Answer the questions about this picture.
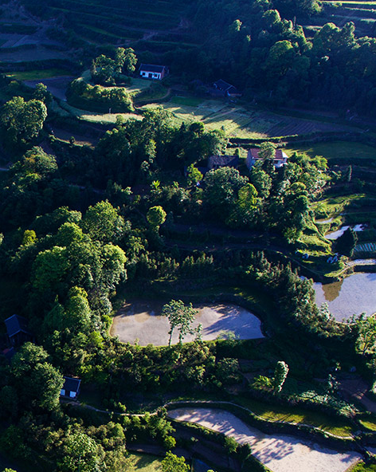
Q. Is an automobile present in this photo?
No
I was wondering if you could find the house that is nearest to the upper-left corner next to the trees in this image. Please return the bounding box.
[140,62,167,78]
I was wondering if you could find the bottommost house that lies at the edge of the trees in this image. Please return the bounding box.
[61,378,82,396]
